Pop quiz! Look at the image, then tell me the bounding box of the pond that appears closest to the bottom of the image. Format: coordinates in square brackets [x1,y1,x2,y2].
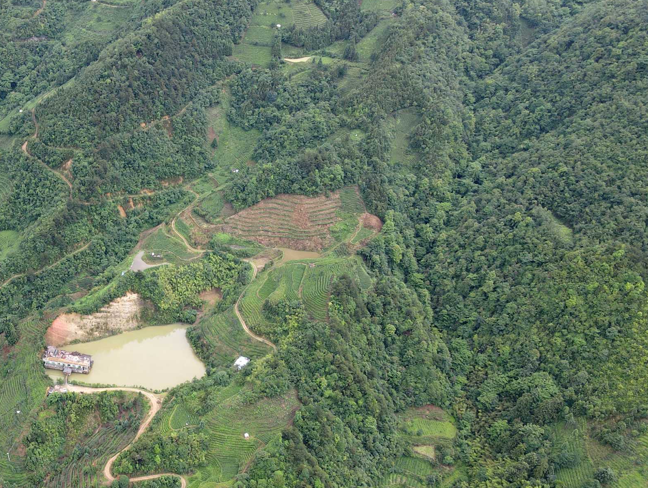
[46,323,207,390]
